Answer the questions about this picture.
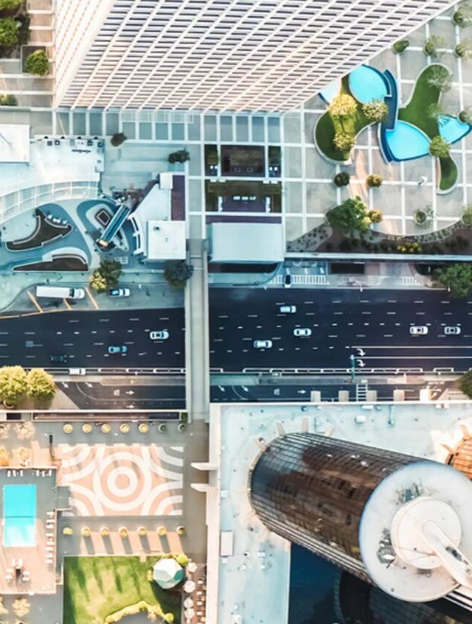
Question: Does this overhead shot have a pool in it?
Yes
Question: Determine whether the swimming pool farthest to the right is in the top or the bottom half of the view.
top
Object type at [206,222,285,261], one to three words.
building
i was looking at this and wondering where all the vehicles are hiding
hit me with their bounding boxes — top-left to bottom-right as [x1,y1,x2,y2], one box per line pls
[443,326,461,334]
[254,340,271,348]
[278,305,296,314]
[66,368,87,375]
[409,326,428,334]
[36,288,83,298]
[150,331,167,340]
[50,354,67,362]
[283,271,292,288]
[108,289,130,296]
[293,329,310,336]
[109,345,125,354]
